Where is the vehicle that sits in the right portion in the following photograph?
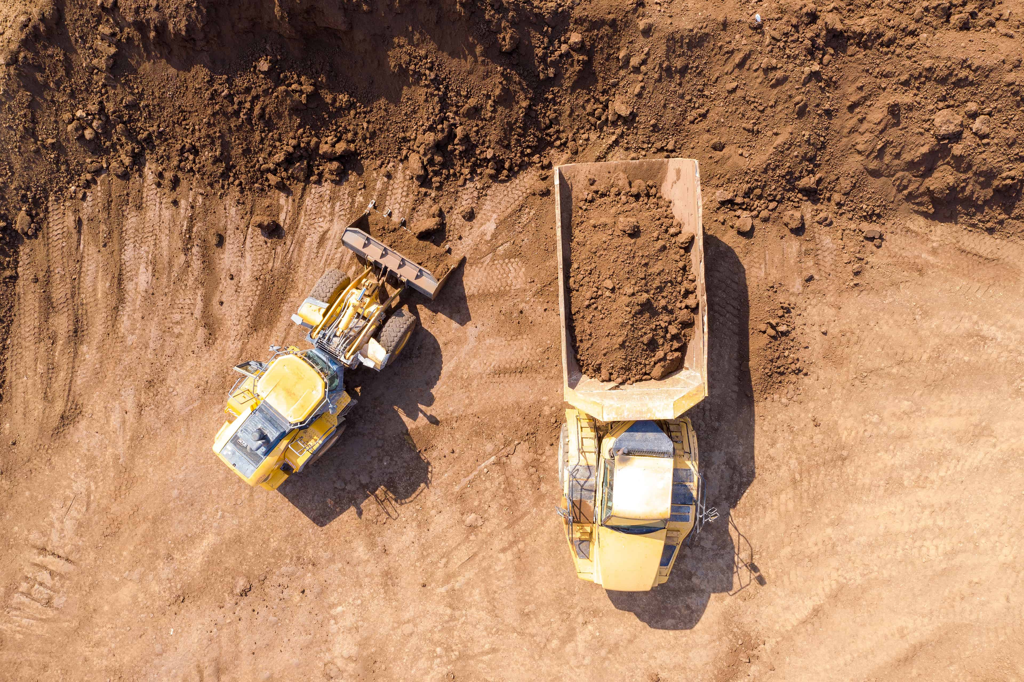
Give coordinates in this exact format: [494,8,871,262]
[555,160,721,592]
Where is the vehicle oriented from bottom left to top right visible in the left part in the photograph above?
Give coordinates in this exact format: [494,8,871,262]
[214,197,464,490]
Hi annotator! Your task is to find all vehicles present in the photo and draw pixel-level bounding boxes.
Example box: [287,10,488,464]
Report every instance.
[555,160,721,592]
[214,197,464,490]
